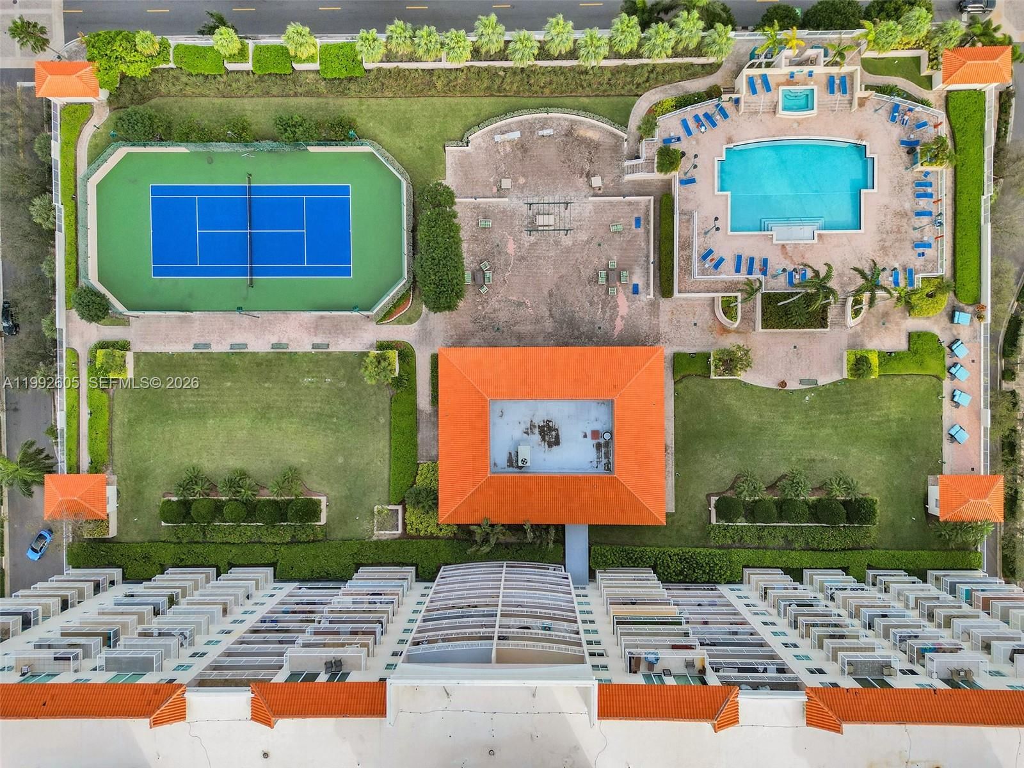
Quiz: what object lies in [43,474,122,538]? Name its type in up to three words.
building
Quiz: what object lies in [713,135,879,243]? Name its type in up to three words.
swimming pool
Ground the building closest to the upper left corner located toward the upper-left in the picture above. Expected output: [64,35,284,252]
[33,61,117,106]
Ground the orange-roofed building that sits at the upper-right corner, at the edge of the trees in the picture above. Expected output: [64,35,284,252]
[925,45,1014,95]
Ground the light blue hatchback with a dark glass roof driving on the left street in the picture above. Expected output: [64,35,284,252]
[29,528,56,562]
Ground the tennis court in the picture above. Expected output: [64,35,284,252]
[95,151,405,312]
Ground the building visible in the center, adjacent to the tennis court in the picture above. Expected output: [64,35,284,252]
[437,347,667,526]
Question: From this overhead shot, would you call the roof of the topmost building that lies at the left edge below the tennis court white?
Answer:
No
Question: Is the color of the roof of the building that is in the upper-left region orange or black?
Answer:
orange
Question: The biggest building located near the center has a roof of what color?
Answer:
orange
